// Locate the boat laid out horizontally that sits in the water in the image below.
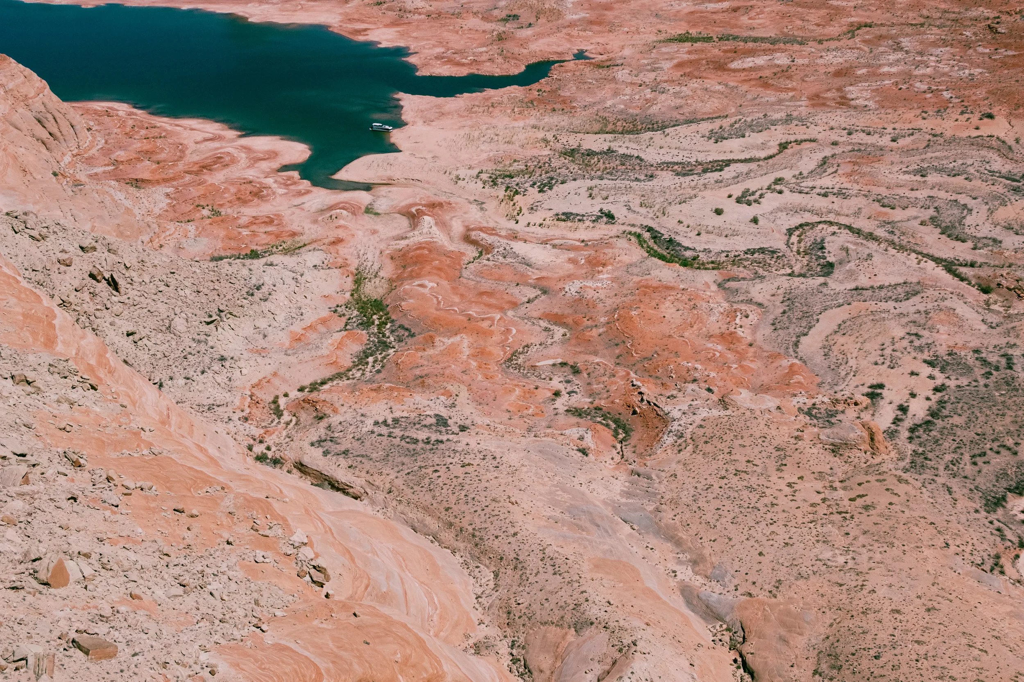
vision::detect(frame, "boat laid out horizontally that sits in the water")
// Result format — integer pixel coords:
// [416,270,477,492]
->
[368,120,392,132]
